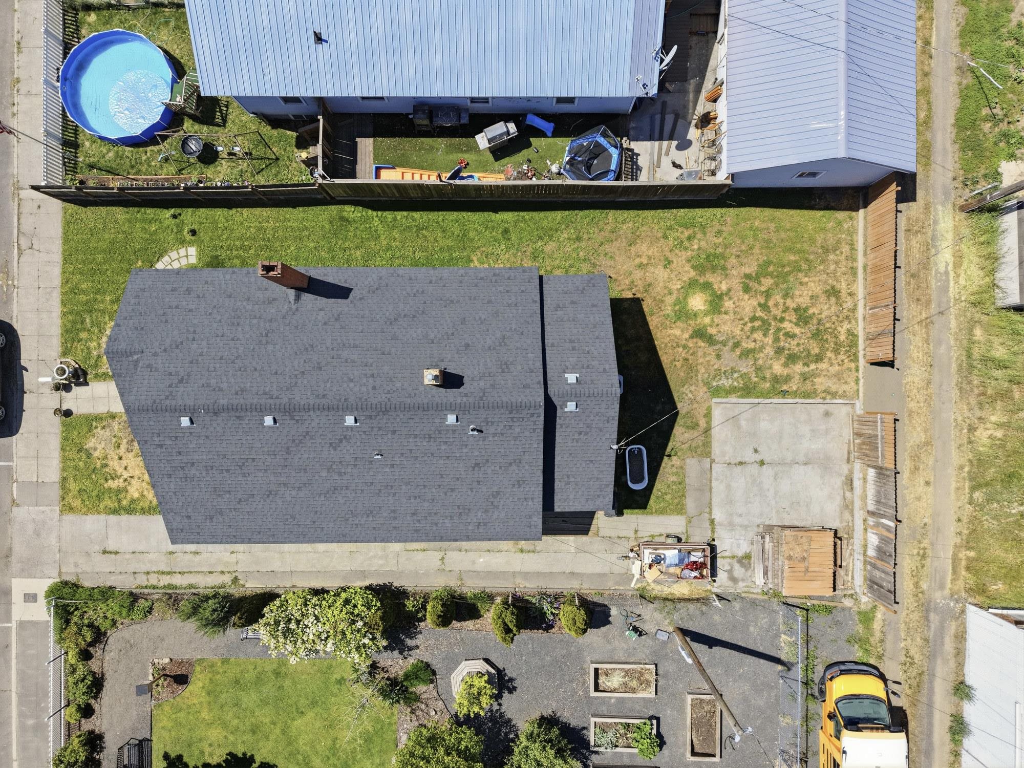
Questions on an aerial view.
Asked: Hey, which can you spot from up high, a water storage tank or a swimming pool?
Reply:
swimming pool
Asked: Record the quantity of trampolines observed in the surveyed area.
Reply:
one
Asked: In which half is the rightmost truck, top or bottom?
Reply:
bottom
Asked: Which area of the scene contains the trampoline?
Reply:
top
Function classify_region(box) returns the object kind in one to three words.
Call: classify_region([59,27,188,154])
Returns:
swimming pool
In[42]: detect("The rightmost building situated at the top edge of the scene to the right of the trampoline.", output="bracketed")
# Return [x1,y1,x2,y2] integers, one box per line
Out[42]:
[715,0,917,187]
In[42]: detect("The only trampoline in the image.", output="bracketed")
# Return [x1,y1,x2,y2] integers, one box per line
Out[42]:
[566,113,628,180]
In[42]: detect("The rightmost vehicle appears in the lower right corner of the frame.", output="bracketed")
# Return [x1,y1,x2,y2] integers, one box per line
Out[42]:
[813,659,909,768]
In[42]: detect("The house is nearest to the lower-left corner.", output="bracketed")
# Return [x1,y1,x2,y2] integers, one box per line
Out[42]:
[104,259,620,542]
